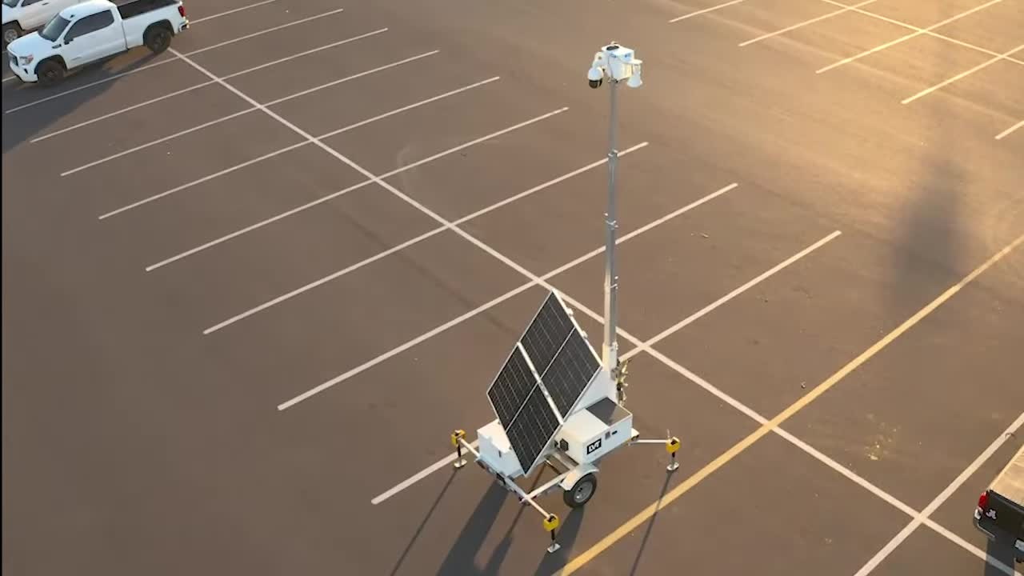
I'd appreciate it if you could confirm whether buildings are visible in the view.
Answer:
No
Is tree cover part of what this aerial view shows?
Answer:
No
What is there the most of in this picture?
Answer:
paved ground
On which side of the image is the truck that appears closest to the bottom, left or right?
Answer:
right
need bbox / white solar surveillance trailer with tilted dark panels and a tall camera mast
[450,43,681,554]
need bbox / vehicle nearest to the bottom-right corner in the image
[977,458,1024,567]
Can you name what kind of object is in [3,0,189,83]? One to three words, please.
truck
